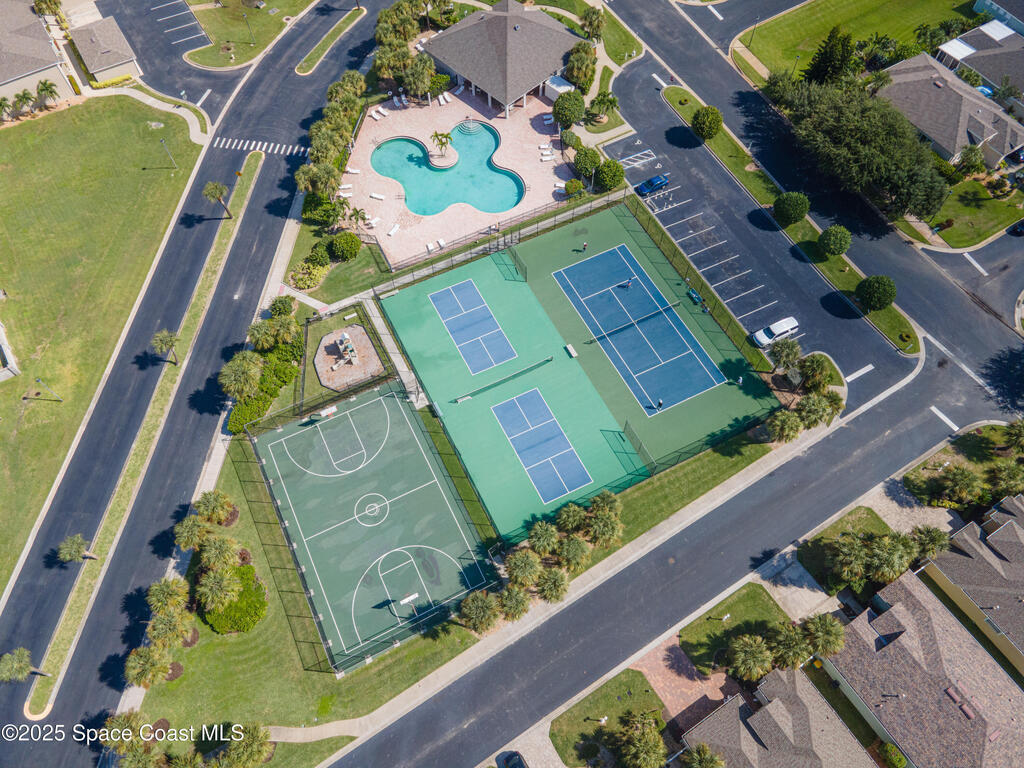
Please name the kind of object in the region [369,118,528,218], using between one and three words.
swimming pool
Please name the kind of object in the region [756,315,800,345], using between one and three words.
van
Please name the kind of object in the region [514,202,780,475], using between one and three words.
tennis court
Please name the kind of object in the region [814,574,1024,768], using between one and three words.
house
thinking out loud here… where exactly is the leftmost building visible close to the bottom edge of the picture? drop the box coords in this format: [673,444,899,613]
[681,662,881,768]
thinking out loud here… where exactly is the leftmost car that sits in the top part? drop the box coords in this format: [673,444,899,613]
[635,174,670,194]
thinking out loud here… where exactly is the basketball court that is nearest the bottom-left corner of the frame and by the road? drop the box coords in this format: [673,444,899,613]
[256,382,500,674]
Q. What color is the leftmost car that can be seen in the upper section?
blue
